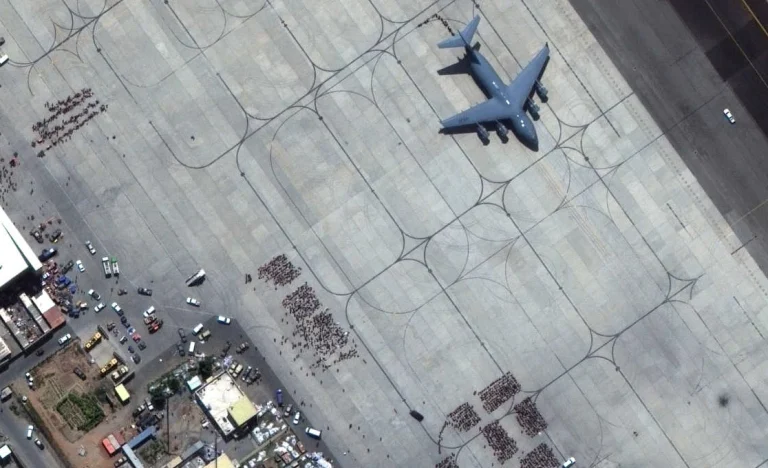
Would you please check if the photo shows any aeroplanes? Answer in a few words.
Yes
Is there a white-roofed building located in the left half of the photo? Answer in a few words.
Yes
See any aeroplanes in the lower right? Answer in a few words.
No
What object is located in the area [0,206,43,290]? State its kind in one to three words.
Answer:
building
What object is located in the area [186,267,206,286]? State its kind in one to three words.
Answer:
vehicle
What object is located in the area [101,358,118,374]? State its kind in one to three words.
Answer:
work vehicle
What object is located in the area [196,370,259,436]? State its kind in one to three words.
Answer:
building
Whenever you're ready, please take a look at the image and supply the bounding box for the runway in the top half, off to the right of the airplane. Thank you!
[668,0,768,140]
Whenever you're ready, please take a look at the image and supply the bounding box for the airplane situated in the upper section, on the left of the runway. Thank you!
[436,16,550,147]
